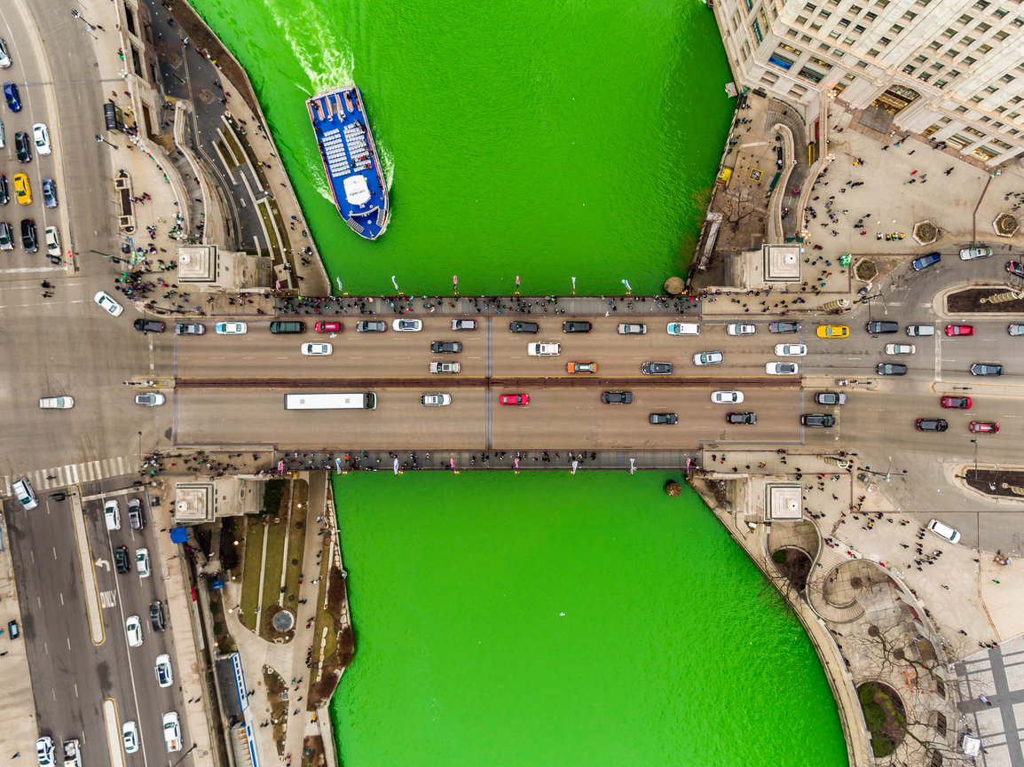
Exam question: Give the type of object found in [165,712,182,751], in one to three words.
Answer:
vehicle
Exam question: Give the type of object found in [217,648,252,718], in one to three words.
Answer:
building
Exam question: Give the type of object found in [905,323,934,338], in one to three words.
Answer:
car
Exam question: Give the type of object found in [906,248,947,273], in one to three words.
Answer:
truck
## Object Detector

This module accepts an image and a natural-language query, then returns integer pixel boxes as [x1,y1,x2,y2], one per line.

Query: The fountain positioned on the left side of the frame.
[272,610,294,633]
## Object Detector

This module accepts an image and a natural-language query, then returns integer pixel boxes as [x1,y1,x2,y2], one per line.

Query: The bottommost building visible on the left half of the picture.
[231,706,265,767]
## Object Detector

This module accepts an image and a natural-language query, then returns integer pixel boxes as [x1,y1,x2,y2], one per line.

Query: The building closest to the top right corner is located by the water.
[722,0,1024,172]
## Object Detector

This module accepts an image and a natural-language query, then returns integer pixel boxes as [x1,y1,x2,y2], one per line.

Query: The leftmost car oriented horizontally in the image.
[40,395,74,410]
